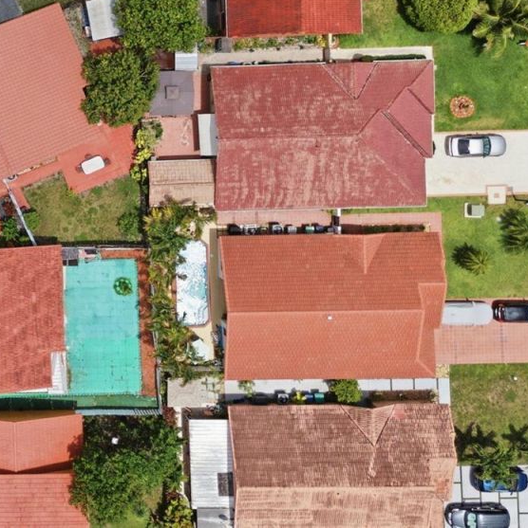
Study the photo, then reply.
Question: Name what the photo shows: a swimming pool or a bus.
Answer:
swimming pool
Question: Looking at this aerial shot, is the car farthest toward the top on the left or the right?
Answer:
right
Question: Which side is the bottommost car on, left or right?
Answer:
right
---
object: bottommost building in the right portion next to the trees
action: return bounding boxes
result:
[222,397,457,528]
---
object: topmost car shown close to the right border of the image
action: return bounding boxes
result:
[444,132,507,159]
